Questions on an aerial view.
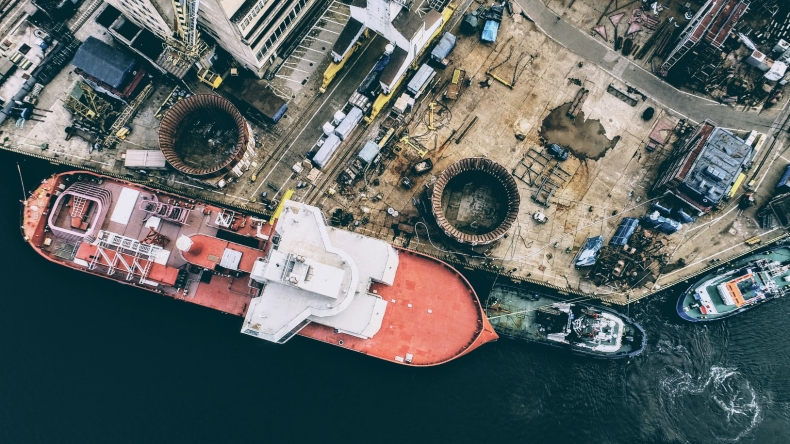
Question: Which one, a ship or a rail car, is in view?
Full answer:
Visible in the photo is a ship.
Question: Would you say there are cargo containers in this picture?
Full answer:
Yes, I can see a cargo container in this picture.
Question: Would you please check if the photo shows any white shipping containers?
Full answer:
Yes, the photo shows a white shipping container.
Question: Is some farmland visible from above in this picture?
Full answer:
No, there's no farmland in this view.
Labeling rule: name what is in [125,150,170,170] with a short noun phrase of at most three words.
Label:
building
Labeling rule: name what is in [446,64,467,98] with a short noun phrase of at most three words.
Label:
vehicle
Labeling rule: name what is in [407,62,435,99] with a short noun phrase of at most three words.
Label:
shipping container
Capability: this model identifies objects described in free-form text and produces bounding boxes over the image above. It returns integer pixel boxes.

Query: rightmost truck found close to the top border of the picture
[481,0,506,41]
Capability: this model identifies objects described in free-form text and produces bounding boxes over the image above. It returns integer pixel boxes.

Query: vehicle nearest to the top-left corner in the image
[64,119,100,146]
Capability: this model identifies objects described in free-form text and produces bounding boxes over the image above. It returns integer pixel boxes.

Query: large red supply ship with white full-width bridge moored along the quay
[16,163,497,367]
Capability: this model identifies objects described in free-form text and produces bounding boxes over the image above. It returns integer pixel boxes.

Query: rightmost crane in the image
[319,0,461,127]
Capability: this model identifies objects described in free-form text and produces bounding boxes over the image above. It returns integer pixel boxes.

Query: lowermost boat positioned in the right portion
[479,281,647,361]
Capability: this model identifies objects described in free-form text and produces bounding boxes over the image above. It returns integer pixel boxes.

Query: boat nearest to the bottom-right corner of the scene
[673,238,790,323]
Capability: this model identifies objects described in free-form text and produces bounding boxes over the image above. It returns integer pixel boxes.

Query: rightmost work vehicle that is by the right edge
[741,190,760,216]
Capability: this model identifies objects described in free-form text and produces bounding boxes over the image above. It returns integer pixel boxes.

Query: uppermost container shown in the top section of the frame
[430,32,457,66]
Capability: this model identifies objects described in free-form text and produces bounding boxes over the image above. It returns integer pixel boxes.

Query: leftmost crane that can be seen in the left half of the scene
[62,78,158,137]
